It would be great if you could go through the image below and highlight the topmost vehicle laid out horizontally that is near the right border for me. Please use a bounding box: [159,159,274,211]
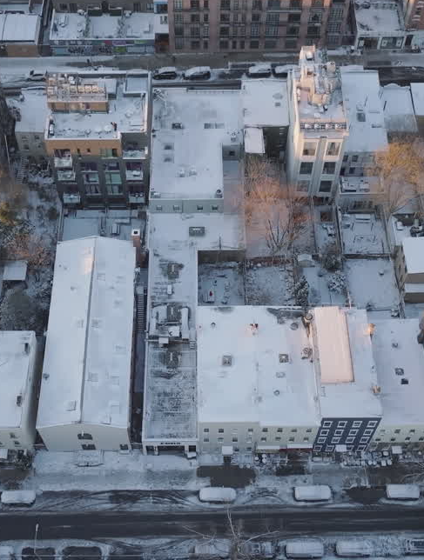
[381,482,423,501]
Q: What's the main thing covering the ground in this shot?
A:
buildings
